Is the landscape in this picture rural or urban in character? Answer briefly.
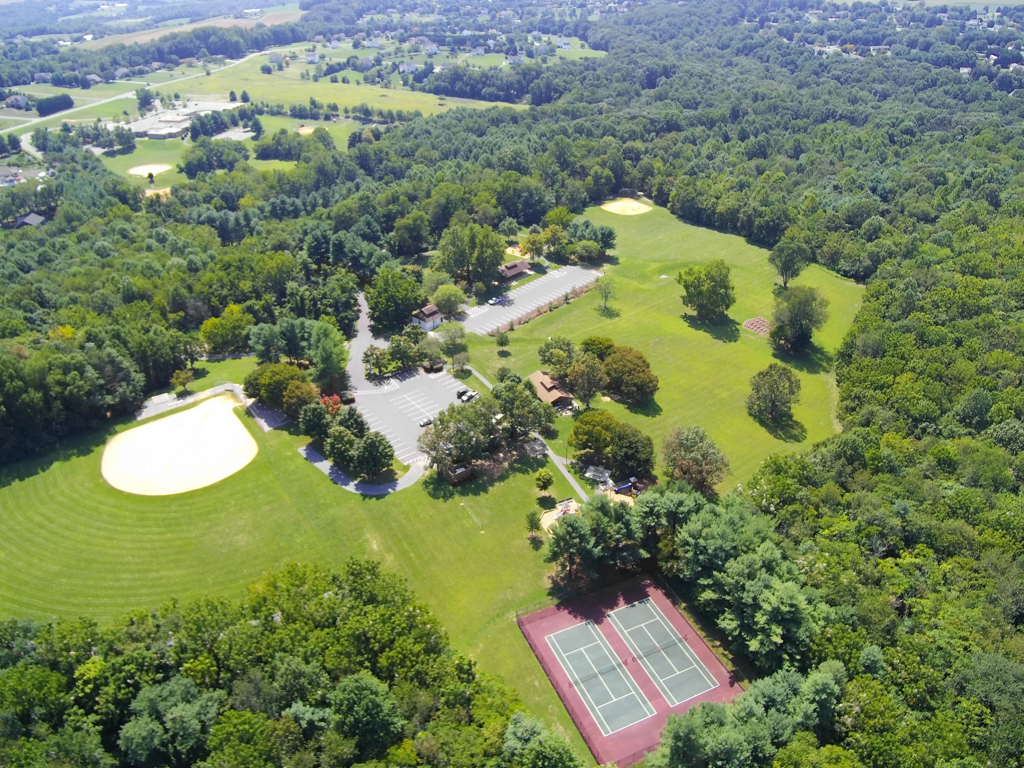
rural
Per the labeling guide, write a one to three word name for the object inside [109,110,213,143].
building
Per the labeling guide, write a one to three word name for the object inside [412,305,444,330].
shed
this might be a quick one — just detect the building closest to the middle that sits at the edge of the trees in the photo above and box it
[528,368,573,409]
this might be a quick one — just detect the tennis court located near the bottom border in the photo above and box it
[519,573,759,768]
